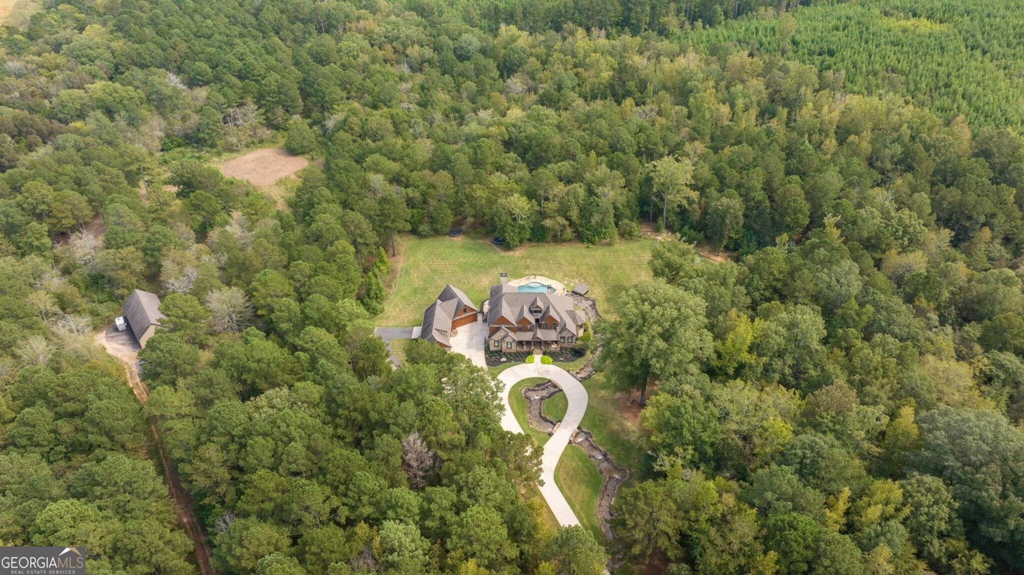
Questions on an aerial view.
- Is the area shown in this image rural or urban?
rural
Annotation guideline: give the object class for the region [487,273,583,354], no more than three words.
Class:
house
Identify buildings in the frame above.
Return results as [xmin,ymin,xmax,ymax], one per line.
[419,284,480,355]
[487,273,583,354]
[574,283,589,299]
[123,288,168,347]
